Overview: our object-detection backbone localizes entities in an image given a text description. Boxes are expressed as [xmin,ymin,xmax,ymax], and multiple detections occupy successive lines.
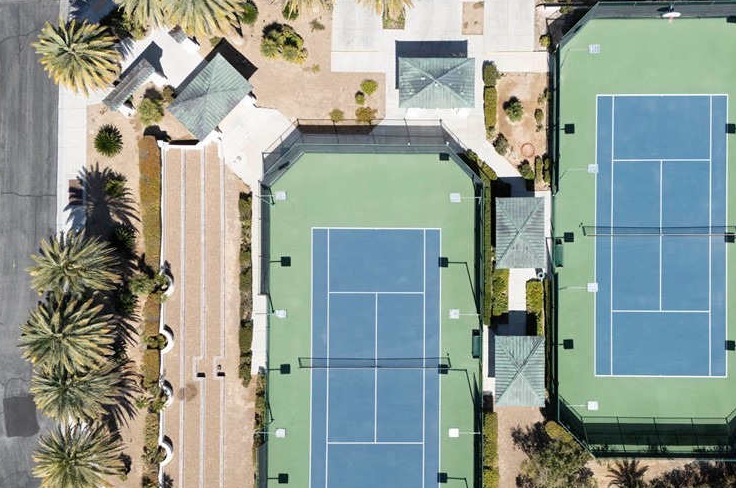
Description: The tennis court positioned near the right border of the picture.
[552,15,736,454]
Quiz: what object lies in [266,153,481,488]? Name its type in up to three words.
tennis court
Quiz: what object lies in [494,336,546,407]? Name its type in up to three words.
building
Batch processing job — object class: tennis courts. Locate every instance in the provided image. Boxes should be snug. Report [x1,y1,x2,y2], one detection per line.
[266,153,481,488]
[552,15,736,454]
